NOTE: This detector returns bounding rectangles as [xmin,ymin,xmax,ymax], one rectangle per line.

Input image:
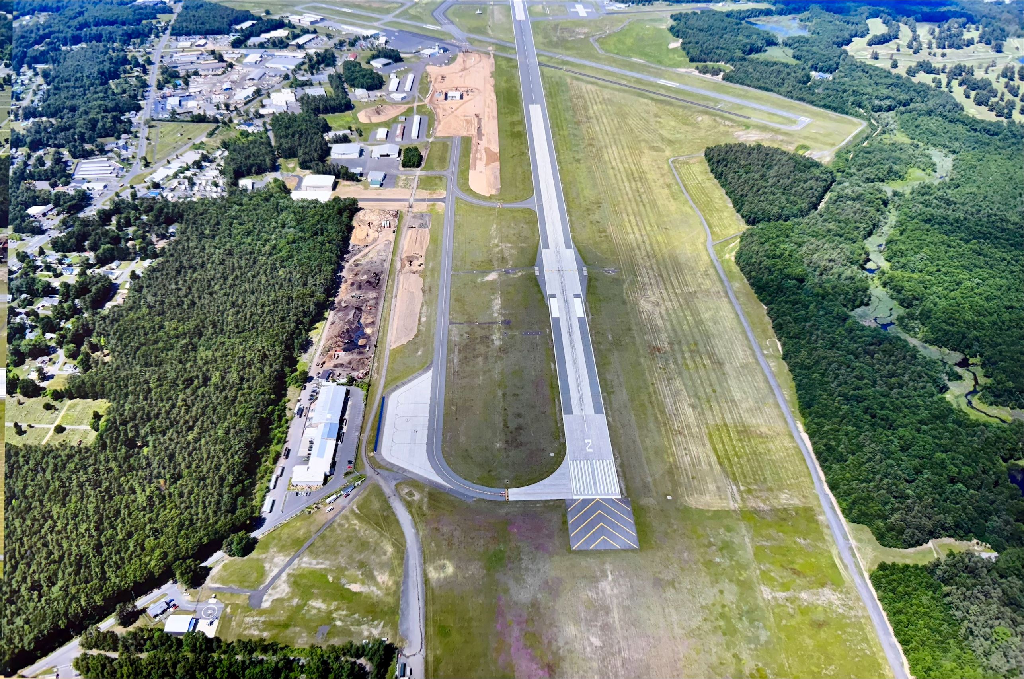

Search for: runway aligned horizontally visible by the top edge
[315,3,805,121]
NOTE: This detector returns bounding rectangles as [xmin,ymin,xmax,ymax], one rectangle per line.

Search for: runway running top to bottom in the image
[510,0,621,498]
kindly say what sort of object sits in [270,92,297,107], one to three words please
building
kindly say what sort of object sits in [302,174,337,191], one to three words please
hangar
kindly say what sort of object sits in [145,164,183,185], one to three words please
building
